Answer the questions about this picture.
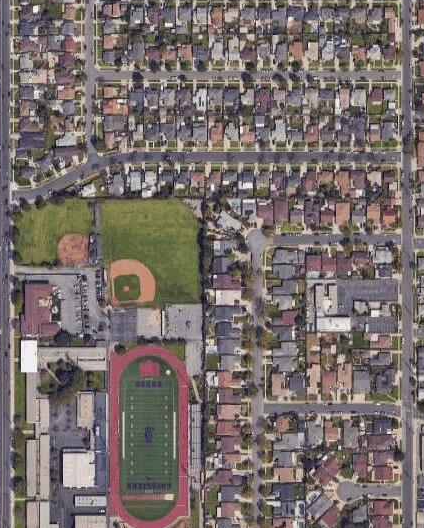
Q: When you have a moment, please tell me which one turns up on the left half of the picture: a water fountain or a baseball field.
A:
baseball field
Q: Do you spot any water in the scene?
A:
No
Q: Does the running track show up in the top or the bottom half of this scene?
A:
bottom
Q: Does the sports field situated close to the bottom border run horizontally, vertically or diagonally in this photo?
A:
vertically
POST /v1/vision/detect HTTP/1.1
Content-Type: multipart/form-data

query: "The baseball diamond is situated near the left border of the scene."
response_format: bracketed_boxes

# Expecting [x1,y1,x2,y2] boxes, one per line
[16,199,95,265]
